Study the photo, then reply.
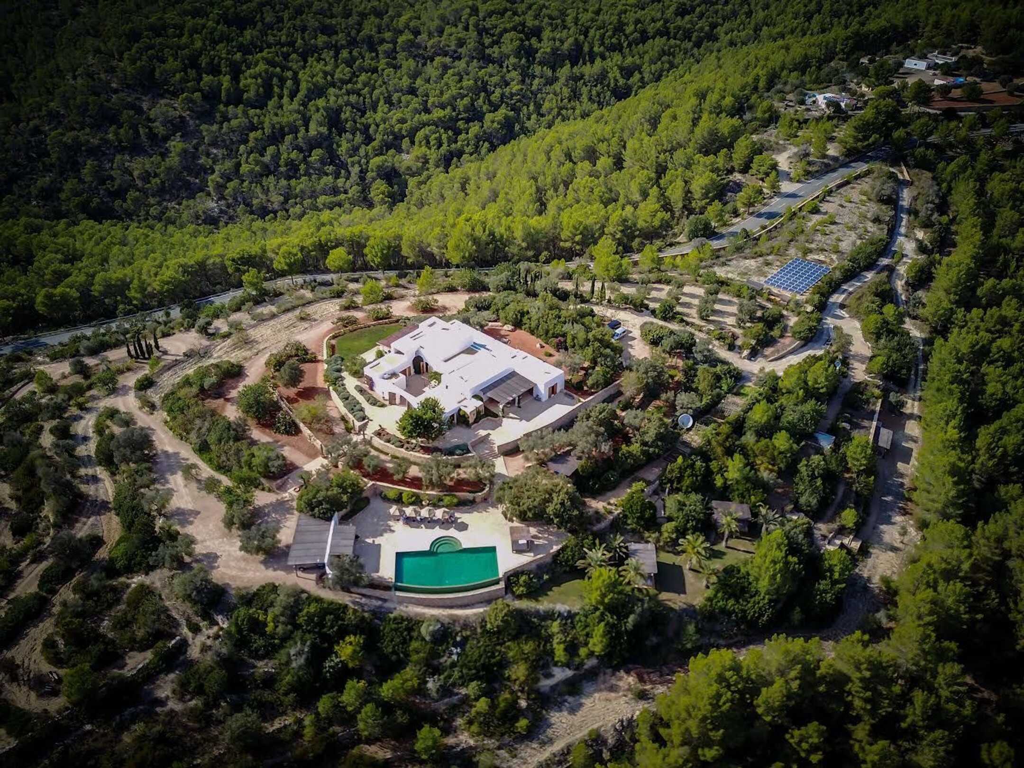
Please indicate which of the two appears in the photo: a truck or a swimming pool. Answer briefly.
swimming pool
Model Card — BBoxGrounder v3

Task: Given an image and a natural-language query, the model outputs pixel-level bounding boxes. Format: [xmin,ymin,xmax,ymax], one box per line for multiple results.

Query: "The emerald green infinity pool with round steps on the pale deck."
[386,531,508,612]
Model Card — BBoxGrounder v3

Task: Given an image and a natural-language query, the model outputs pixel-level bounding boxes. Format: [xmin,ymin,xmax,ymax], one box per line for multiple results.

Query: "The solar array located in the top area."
[763,255,832,296]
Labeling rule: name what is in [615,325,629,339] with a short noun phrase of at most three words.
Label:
car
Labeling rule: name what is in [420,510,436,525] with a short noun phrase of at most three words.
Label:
umbrella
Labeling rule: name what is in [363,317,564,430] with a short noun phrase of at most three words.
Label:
house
